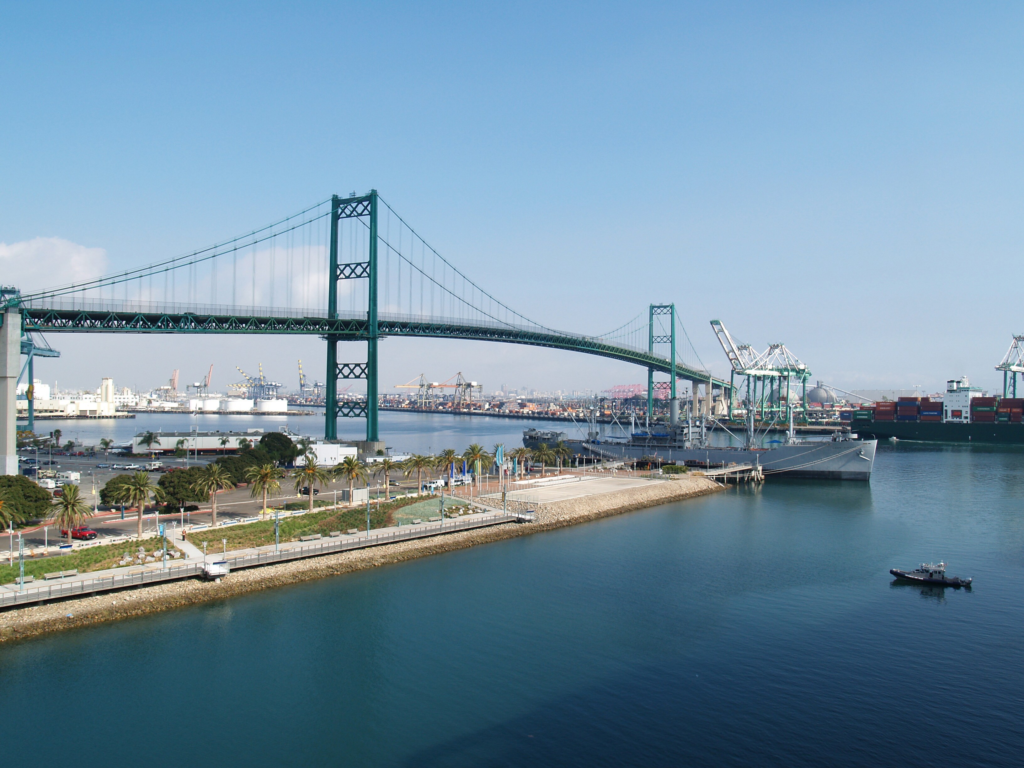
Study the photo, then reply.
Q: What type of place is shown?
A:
port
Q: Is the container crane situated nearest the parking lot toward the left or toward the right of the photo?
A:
left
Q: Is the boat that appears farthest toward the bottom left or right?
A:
right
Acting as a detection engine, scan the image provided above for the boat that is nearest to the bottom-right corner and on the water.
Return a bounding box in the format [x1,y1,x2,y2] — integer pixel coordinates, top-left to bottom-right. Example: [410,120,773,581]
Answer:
[894,555,979,586]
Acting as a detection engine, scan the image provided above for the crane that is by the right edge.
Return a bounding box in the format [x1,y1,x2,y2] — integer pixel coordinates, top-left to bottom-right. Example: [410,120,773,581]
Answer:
[1001,323,1024,413]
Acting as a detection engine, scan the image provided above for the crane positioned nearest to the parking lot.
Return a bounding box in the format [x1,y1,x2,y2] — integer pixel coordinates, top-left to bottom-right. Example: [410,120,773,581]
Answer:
[0,279,57,436]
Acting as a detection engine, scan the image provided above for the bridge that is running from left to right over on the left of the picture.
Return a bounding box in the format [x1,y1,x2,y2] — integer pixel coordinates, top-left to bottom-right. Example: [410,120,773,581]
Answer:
[0,187,763,481]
